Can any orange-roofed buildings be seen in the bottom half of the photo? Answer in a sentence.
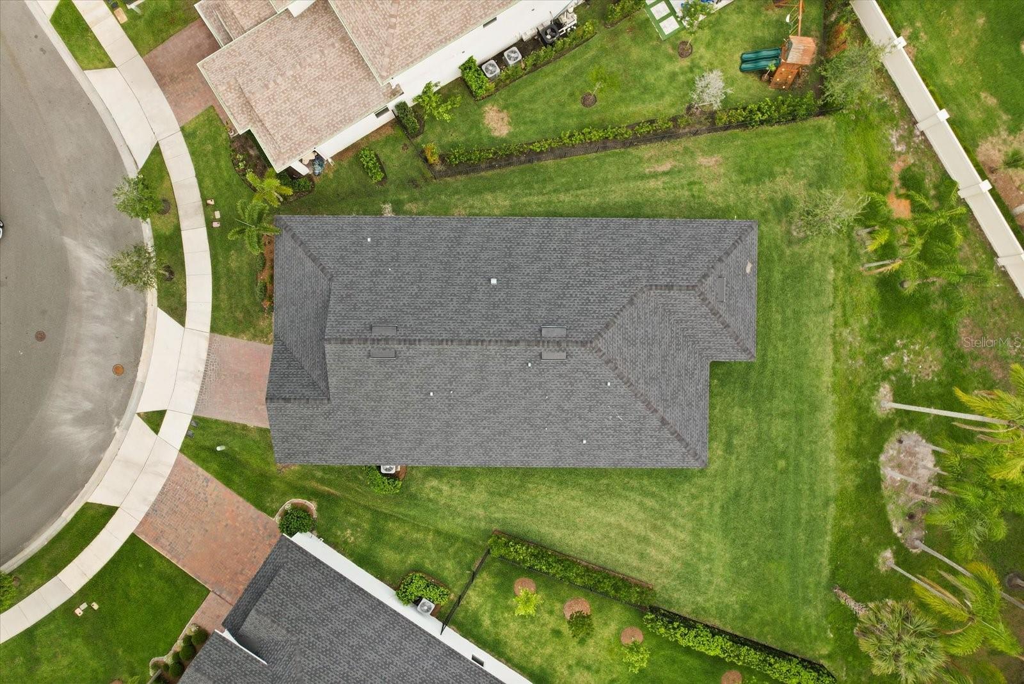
No, no orange-roofed building appears in the bottom half of the photo.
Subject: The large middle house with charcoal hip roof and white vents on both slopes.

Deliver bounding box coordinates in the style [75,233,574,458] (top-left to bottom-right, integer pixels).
[264,214,759,469]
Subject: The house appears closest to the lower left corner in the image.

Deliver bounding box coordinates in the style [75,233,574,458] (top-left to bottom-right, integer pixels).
[175,531,534,684]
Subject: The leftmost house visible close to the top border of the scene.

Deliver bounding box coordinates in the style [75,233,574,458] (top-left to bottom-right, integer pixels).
[196,0,579,176]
